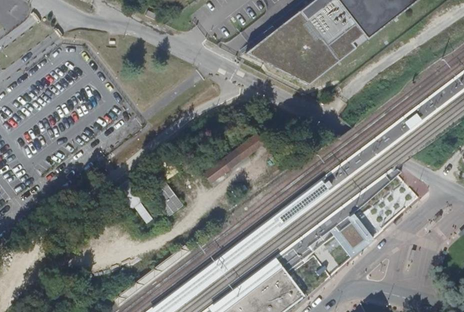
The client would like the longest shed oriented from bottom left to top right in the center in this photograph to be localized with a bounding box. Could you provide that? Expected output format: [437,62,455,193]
[204,135,261,185]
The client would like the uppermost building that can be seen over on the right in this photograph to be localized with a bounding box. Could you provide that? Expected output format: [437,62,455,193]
[248,0,418,85]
